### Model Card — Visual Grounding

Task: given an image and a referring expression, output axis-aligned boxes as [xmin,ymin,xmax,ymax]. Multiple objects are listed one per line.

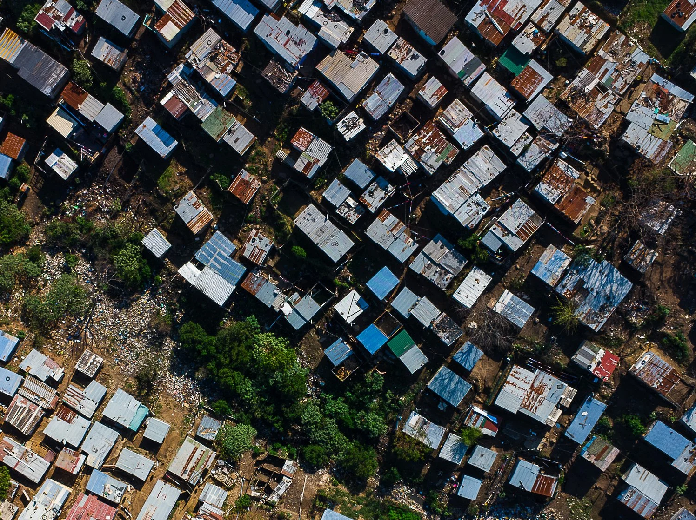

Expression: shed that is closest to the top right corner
[656,0,696,37]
